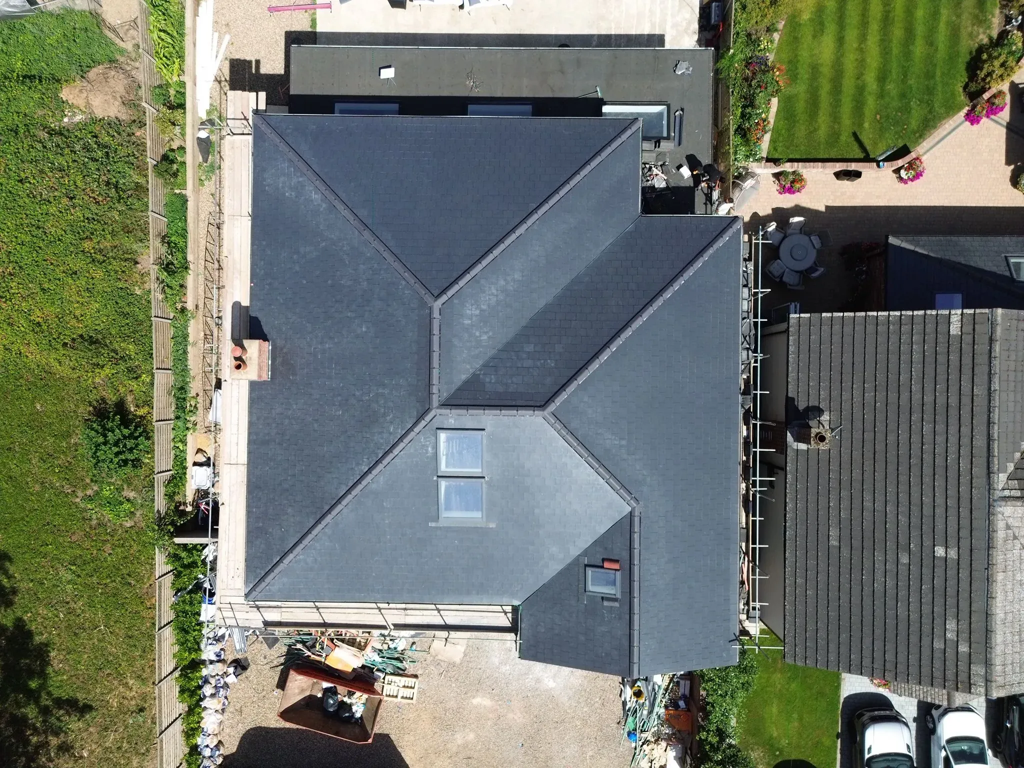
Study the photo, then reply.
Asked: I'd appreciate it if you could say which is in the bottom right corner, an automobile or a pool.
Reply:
automobile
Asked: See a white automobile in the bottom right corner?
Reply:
Yes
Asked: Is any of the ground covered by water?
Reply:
No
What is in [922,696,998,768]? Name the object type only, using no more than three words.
car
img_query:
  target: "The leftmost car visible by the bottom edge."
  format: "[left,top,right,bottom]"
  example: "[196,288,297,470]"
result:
[851,712,925,768]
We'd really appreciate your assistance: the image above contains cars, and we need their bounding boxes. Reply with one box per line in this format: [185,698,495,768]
[995,686,1024,768]
[922,696,998,768]
[851,712,925,768]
